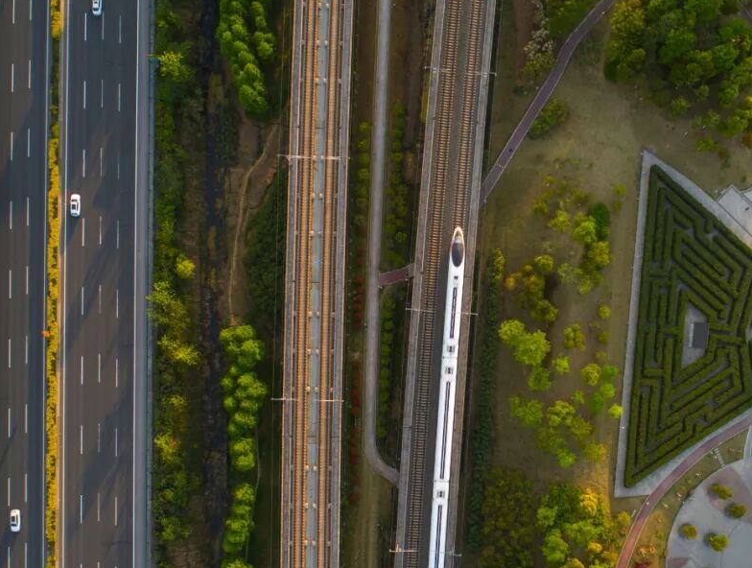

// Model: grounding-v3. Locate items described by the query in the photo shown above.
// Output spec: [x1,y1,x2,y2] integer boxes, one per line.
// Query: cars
[69,195,81,217]
[9,509,21,532]
[91,0,102,15]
